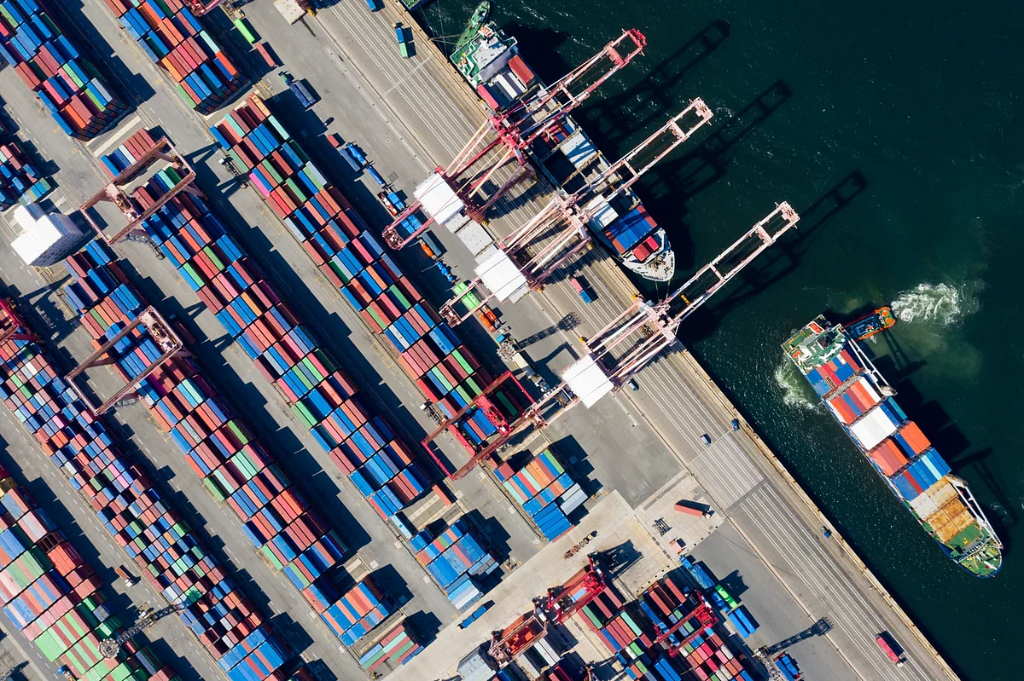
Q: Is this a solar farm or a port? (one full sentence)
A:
The picture captures a port.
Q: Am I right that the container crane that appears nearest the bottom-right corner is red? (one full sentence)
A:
Yes, red is the color of the container crane that appears nearest the bottom-right corner.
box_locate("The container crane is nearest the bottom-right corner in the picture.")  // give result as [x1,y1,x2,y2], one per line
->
[654,578,719,659]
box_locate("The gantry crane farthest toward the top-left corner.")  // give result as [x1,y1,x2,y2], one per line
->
[78,133,216,248]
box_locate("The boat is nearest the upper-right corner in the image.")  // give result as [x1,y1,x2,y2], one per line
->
[842,311,893,342]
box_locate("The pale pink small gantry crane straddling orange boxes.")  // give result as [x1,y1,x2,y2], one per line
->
[485,592,552,674]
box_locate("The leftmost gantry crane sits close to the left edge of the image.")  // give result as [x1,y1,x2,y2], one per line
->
[0,295,54,345]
